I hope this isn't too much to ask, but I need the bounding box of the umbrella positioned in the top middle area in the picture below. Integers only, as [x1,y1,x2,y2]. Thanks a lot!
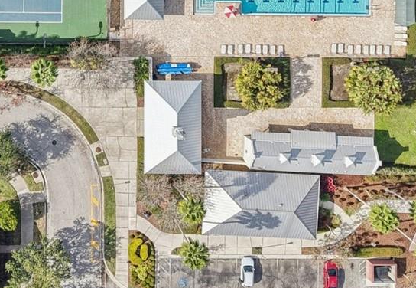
[225,5,238,19]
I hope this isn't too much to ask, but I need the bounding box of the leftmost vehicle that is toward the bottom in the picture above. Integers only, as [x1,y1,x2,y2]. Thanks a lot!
[240,255,257,288]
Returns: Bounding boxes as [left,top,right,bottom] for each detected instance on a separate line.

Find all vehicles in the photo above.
[240,255,257,288]
[323,259,341,288]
